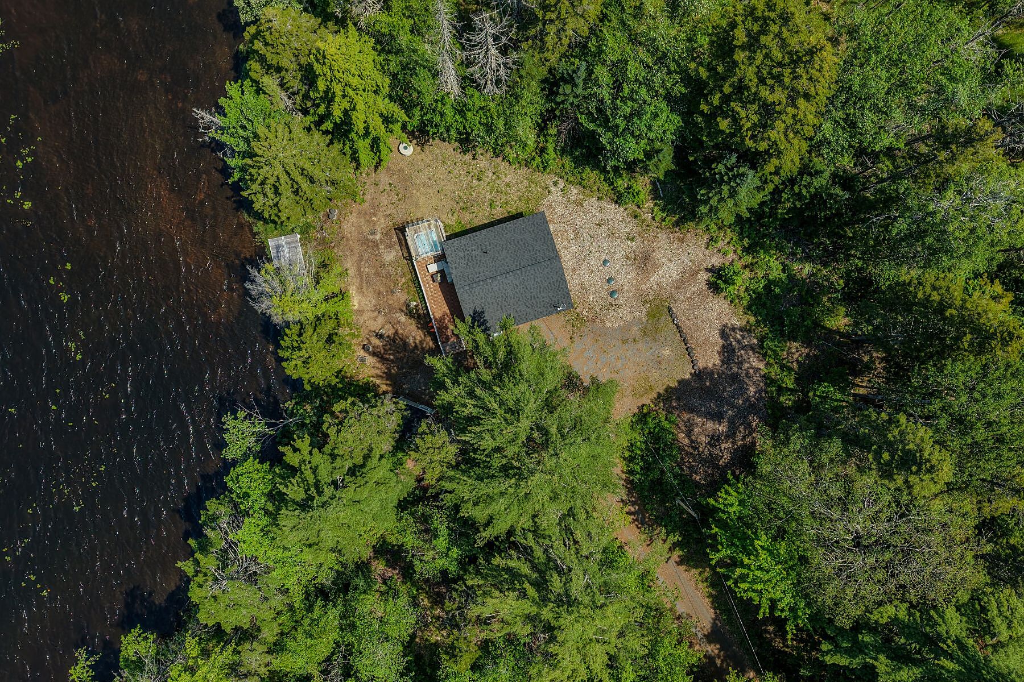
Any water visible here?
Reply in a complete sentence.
Yes, there is water in the image.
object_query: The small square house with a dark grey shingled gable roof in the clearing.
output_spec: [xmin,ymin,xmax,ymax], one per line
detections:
[442,211,573,337]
